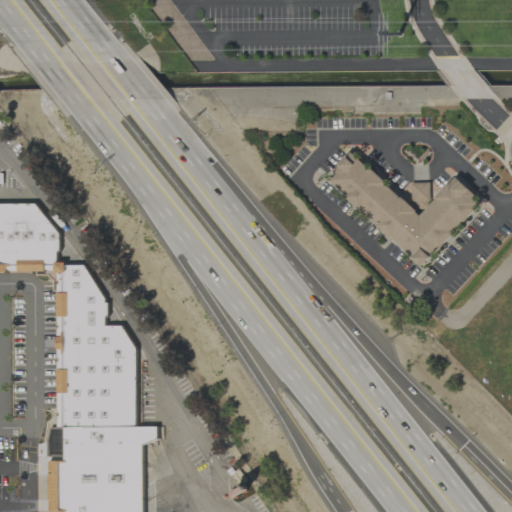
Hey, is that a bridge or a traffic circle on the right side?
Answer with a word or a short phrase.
bridge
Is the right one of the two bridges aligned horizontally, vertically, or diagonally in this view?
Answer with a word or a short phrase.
diagonally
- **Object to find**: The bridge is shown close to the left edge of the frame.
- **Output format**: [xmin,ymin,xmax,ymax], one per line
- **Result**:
[0,22,182,112]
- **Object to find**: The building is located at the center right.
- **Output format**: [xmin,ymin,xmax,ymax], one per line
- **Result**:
[330,154,476,268]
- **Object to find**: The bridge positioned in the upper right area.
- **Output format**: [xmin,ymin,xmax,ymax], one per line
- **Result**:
[434,56,502,100]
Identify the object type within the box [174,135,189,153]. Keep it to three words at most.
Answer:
vehicle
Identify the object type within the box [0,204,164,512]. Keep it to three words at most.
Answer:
building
